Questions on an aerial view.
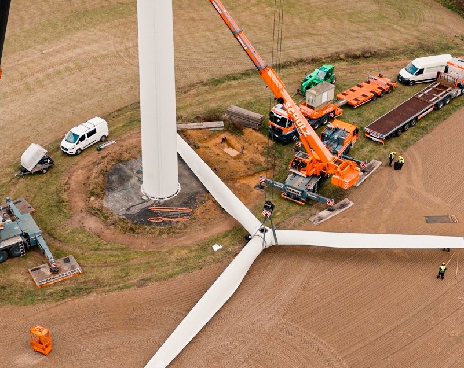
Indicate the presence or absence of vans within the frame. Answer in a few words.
Yes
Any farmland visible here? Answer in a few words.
Yes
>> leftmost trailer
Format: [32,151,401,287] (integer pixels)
[12,140,58,174]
